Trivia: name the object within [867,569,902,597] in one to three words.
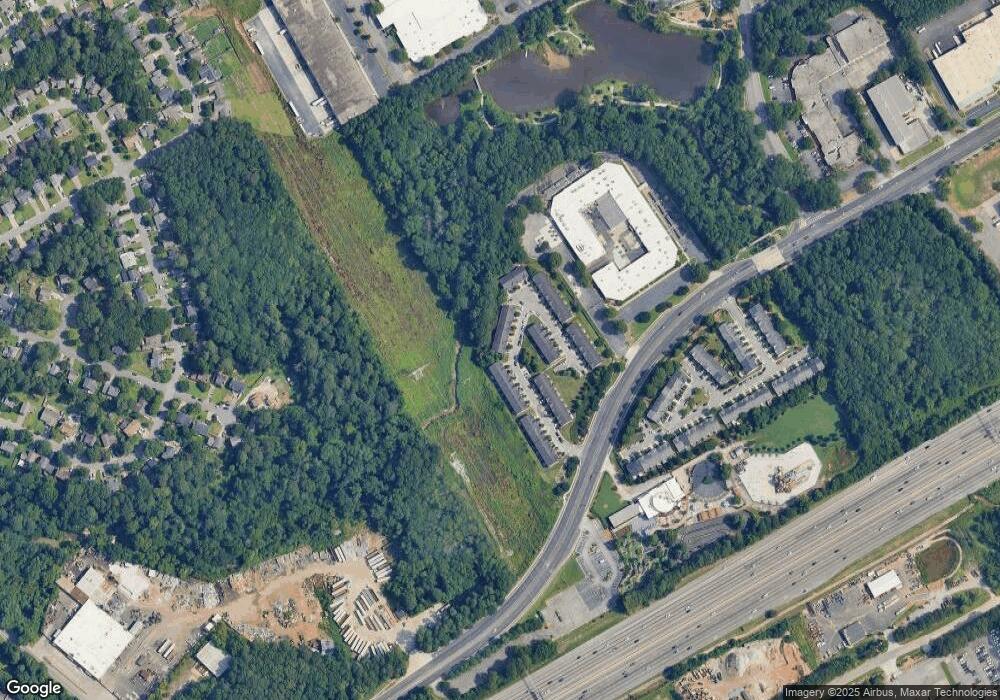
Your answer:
barn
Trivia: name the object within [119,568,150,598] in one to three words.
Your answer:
shed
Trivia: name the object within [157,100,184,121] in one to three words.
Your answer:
house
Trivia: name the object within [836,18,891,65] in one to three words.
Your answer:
building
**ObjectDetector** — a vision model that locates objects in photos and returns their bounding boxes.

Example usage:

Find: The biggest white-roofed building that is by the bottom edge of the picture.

[52,599,133,679]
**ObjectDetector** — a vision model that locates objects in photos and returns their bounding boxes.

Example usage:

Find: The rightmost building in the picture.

[933,3,1000,108]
